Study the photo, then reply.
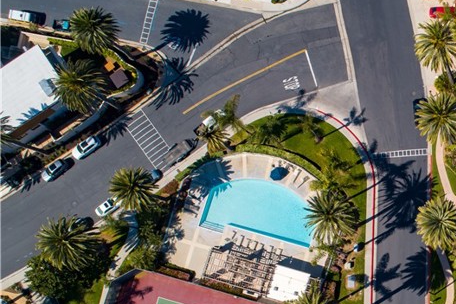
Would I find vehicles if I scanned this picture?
Yes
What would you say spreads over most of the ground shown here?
paved ground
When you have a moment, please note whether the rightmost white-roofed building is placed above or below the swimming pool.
below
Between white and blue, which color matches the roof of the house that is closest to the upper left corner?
white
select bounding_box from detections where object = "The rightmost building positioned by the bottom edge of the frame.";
[270,265,313,301]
